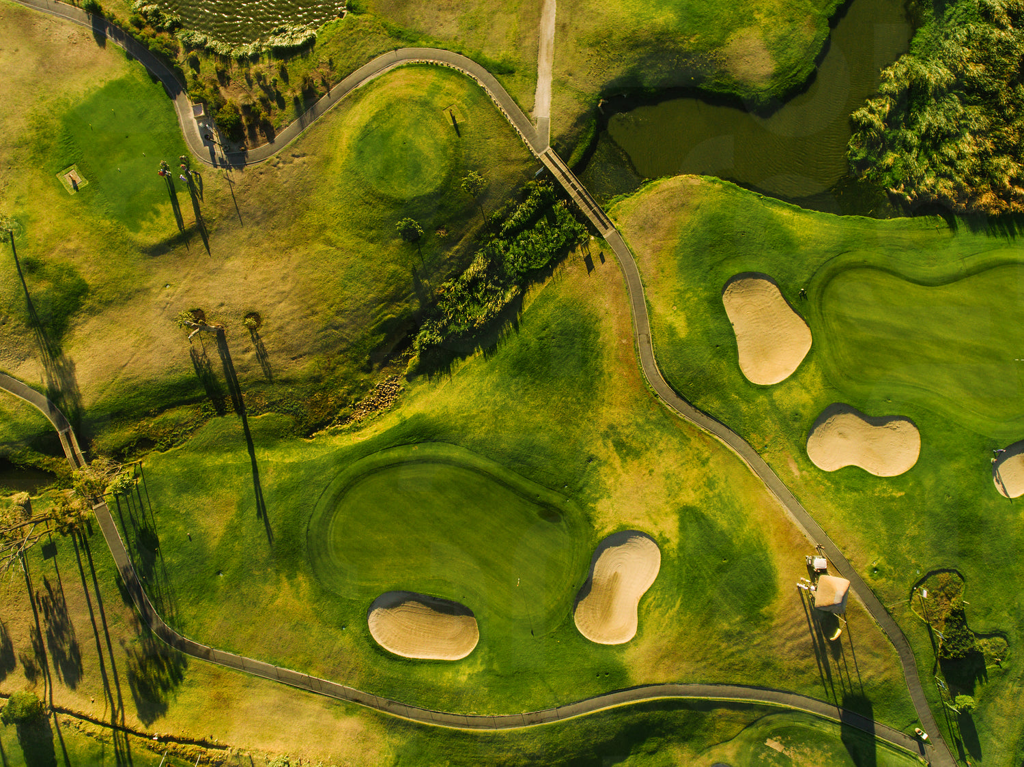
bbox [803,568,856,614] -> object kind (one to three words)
gazebo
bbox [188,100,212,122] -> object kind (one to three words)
shed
